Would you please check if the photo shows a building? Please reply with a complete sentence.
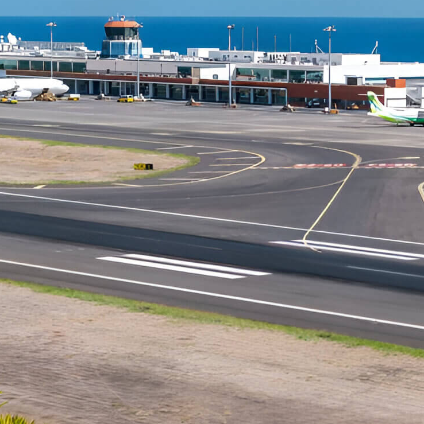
Yes, the photo shows a building.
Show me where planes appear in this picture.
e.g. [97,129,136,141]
[0,79,74,101]
[356,89,424,126]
